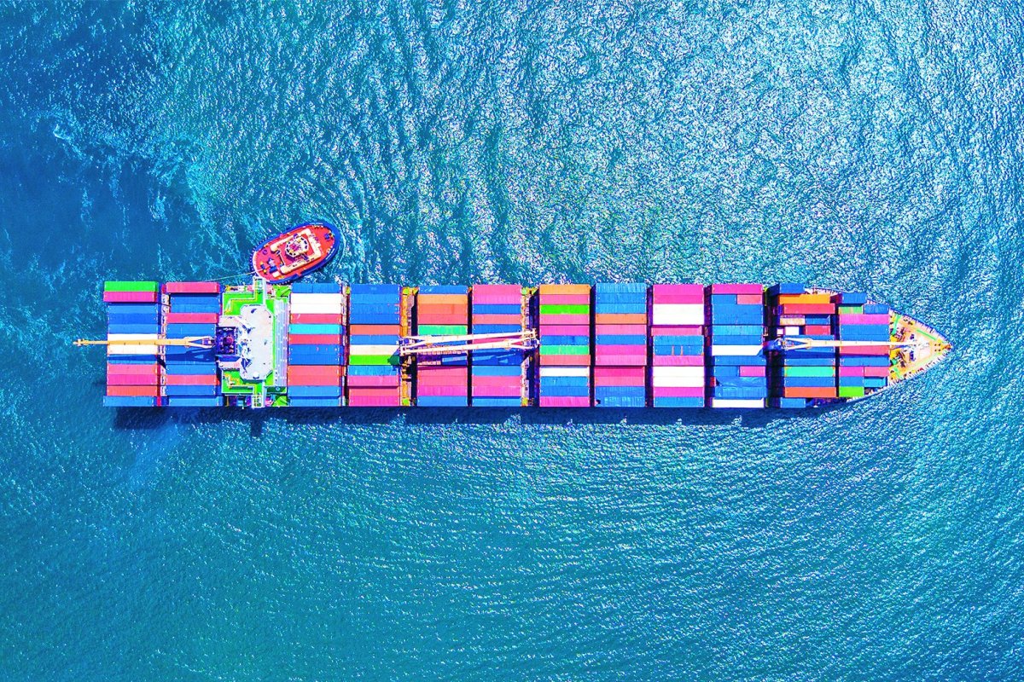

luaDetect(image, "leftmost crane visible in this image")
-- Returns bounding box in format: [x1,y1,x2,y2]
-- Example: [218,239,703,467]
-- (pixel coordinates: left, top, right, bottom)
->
[72,333,218,349]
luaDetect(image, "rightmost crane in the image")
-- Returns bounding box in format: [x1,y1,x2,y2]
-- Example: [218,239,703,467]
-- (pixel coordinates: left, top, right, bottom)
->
[759,334,920,351]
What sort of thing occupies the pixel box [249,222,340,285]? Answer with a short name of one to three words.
boat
